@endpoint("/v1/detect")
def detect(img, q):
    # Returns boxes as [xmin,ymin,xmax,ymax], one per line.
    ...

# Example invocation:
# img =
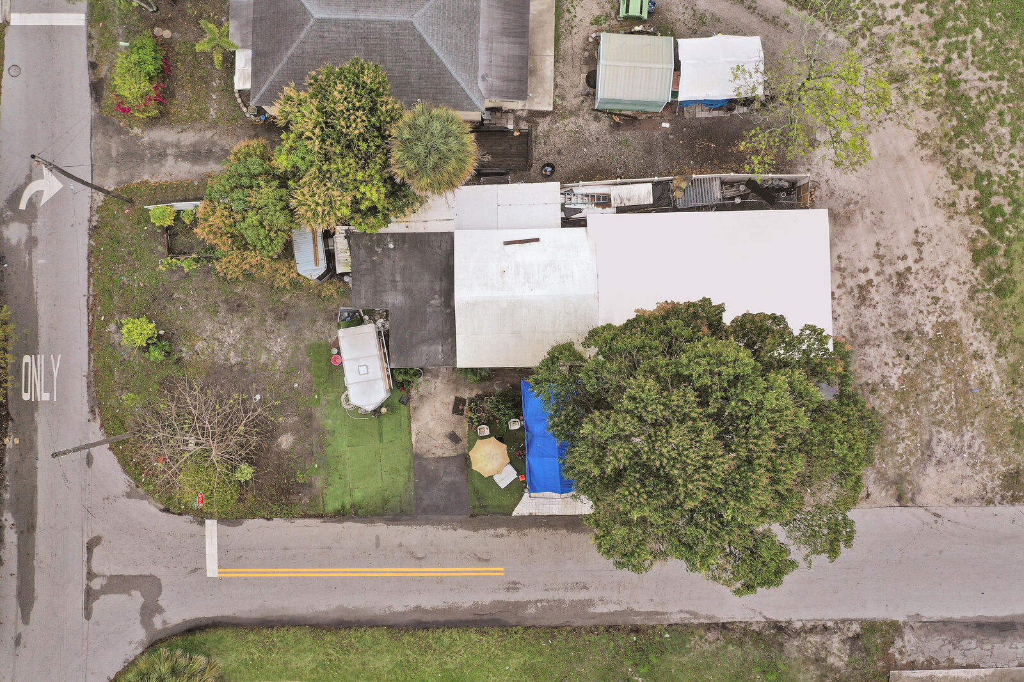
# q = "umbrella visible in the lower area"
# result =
[468,437,510,478]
